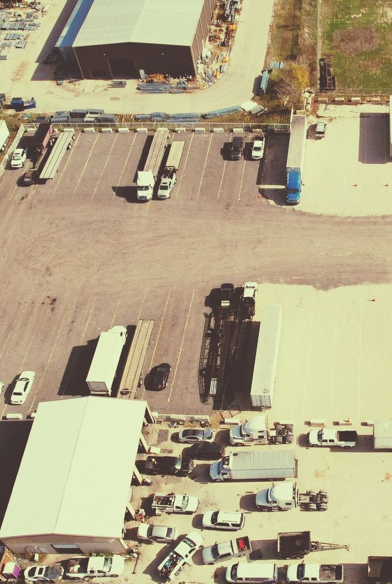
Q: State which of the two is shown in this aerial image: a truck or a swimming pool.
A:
truck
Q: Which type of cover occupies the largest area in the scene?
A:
paved ground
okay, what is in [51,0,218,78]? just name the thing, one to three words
building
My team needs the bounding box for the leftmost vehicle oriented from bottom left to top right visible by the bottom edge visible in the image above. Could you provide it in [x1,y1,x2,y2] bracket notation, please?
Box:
[155,533,206,583]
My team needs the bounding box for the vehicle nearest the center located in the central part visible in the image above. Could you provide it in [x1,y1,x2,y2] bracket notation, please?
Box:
[218,283,234,311]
